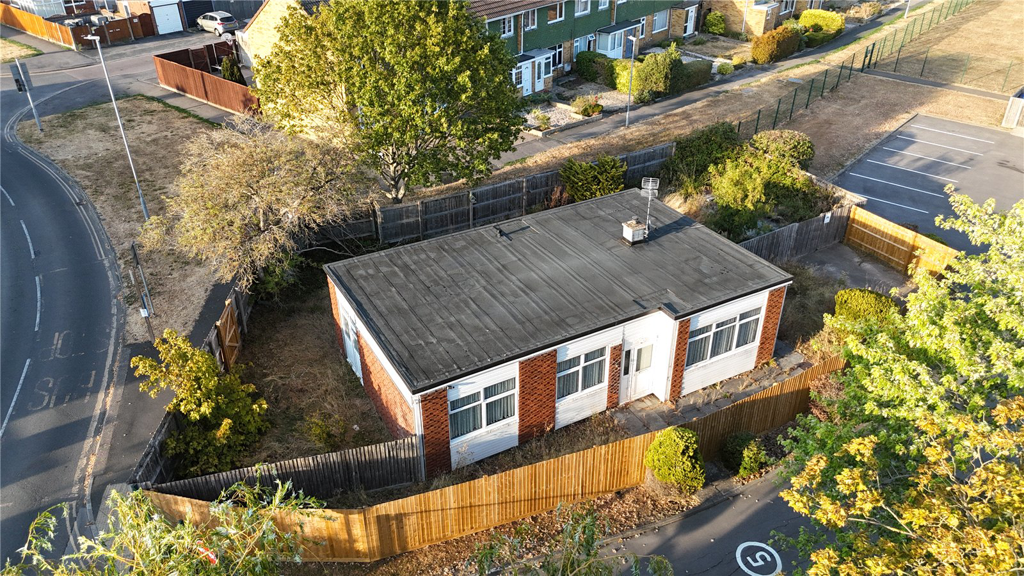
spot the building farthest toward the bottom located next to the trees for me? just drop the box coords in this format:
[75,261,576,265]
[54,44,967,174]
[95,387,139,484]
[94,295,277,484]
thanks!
[324,188,796,478]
